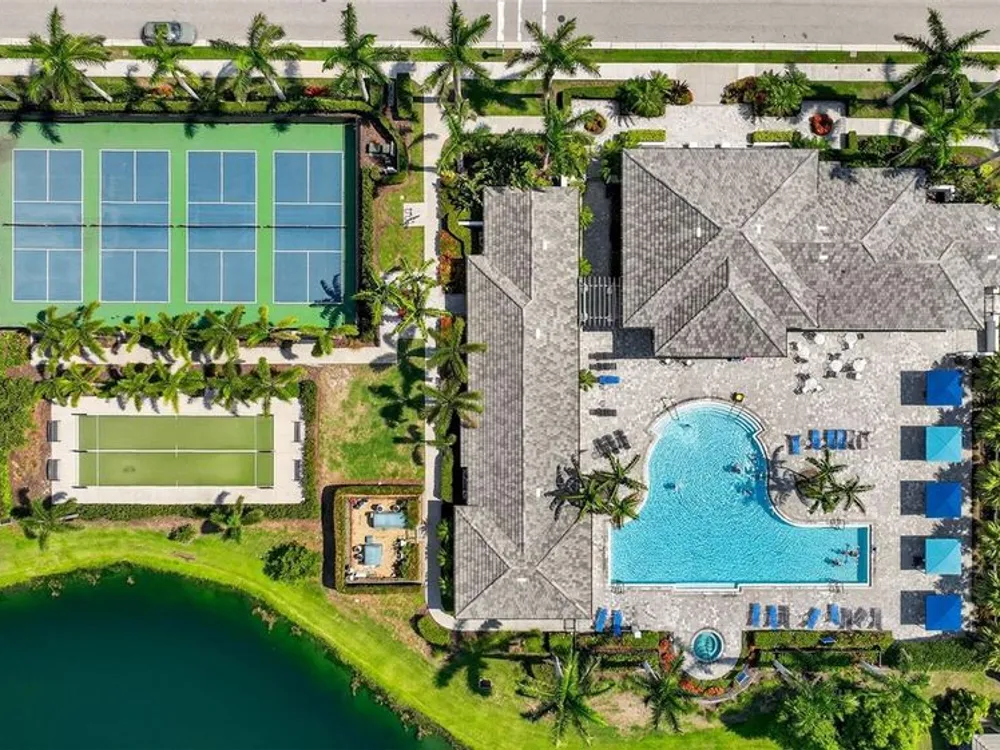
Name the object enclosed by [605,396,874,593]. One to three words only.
swimming pool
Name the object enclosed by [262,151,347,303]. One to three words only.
sports court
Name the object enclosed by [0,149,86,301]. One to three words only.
sports court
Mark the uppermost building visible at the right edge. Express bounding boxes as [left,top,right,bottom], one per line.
[620,146,1000,357]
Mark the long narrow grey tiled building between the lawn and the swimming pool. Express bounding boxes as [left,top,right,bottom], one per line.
[454,181,594,618]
